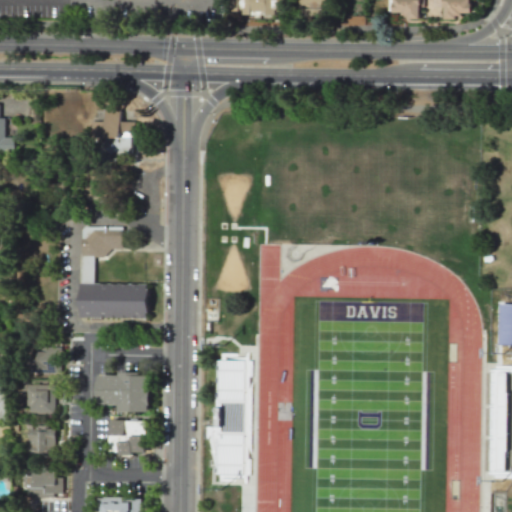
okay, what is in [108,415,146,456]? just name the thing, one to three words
building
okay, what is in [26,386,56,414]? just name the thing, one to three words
house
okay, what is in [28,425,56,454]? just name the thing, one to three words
house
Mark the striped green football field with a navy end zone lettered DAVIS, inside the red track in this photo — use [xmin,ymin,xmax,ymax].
[292,297,450,512]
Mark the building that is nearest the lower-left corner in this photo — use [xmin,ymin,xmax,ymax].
[23,474,64,498]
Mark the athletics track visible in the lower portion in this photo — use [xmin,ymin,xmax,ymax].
[256,244,484,512]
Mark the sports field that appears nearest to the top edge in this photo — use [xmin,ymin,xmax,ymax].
[250,124,481,244]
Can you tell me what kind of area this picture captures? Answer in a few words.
sports ground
